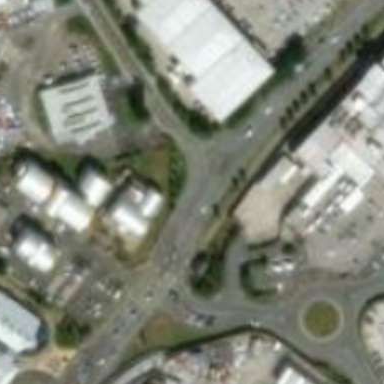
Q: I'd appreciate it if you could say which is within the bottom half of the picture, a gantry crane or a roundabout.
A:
roundabout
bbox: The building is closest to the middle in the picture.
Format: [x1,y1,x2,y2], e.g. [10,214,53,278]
[142,189,164,218]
